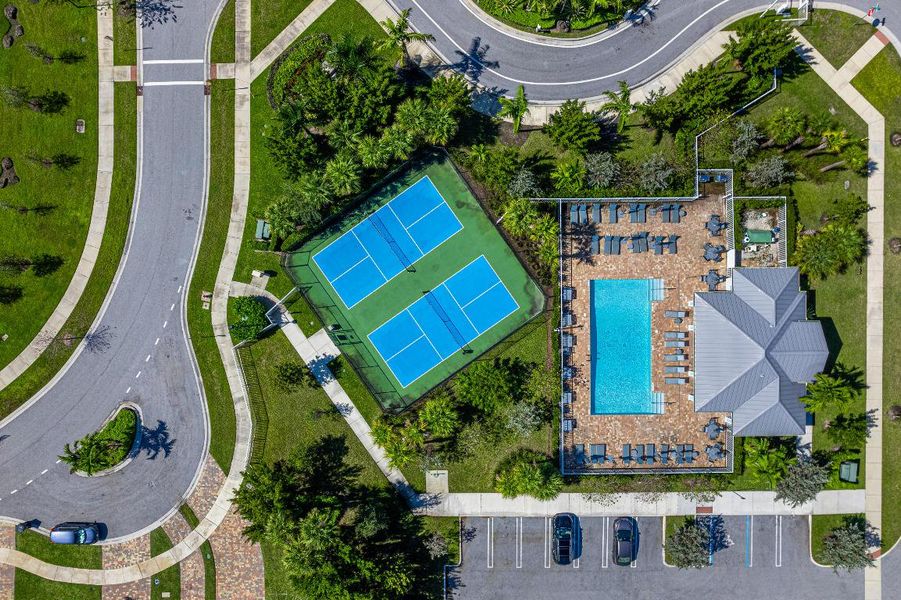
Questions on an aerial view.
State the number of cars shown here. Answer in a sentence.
I count 3 cars.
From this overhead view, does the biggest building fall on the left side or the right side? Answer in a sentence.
The biggest building appears in the right half of the scene.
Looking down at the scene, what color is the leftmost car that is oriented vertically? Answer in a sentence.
In this view, the leftmost car that is oriented vertically is black.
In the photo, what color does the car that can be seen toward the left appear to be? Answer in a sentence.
The car that can be seen toward the left is blue.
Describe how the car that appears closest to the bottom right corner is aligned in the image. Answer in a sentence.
The car that appears closest to the bottom right corner is oriented vertically.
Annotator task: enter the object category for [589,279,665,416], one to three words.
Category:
swimming pool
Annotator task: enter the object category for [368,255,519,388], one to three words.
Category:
sports court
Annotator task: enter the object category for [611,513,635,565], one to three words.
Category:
car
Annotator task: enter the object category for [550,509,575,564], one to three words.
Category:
car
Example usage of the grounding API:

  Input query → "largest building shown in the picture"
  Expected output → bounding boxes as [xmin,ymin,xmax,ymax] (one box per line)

[690,267,831,435]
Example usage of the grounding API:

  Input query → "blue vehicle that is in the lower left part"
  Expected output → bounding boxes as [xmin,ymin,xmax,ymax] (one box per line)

[49,522,103,548]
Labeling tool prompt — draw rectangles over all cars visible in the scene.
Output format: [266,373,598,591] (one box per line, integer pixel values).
[611,513,635,565]
[550,509,575,564]
[49,522,103,548]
